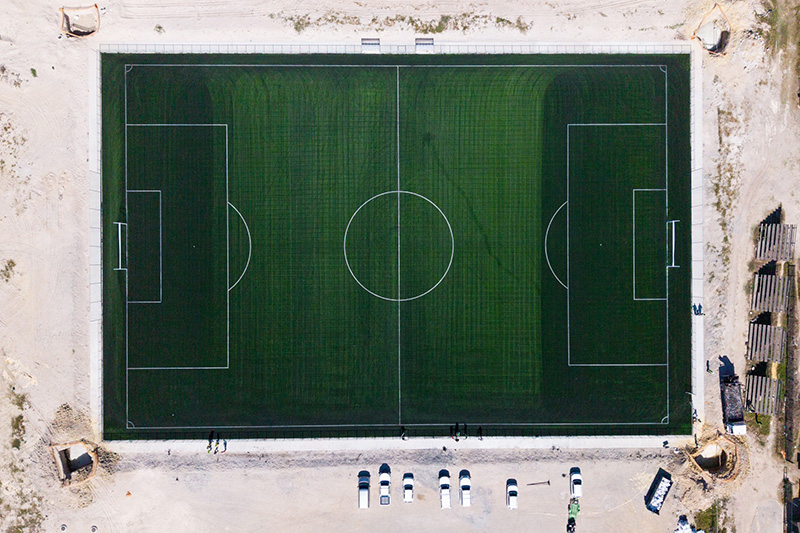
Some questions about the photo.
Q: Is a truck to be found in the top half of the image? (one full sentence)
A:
No, no truck can be made out in the top half of the image.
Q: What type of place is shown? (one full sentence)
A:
The area seen from above is a sports ground.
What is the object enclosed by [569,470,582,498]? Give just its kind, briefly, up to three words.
vehicle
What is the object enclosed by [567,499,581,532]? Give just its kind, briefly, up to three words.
work vehicle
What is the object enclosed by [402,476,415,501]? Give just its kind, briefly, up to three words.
vehicle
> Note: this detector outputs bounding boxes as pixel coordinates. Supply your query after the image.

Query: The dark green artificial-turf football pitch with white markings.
[102,53,692,440]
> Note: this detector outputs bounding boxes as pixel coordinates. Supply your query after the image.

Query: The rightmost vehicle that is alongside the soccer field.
[718,373,746,431]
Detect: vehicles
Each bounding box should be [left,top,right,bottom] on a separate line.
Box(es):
[645,474,671,513]
[402,476,415,501]
[567,499,581,532]
[569,470,582,498]
[718,373,746,431]
[505,482,518,509]
[378,469,391,505]
[458,475,472,506]
[438,474,451,509]
[357,477,371,507]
